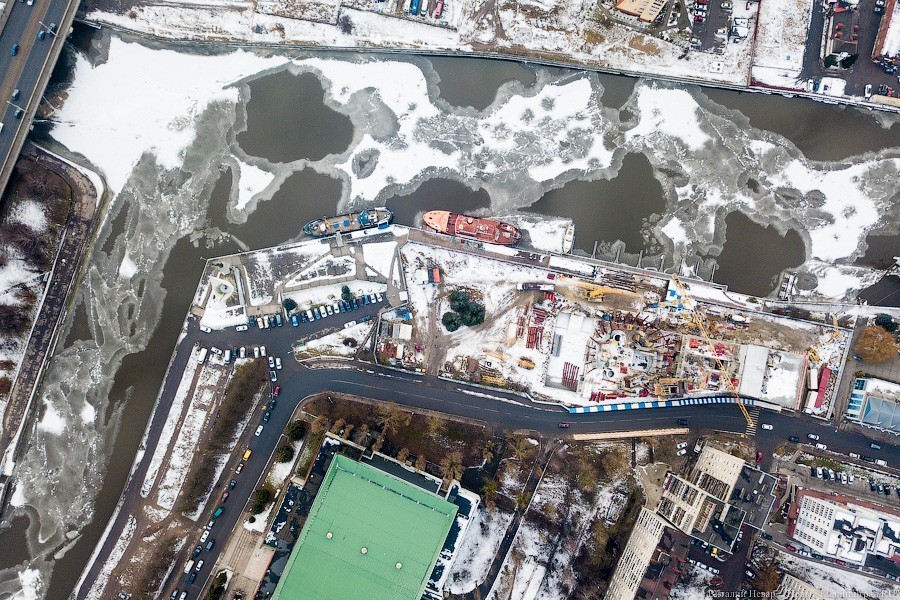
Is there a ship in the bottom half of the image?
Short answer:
No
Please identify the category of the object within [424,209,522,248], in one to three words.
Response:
ship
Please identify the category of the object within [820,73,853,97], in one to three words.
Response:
building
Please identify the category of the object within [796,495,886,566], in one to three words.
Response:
building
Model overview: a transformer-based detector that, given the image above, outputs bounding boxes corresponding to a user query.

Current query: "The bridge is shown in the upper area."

[0,0,84,215]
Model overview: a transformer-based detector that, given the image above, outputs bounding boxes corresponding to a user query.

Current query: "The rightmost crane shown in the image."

[650,275,753,430]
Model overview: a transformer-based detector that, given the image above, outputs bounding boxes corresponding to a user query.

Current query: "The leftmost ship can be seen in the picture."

[301,203,391,234]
